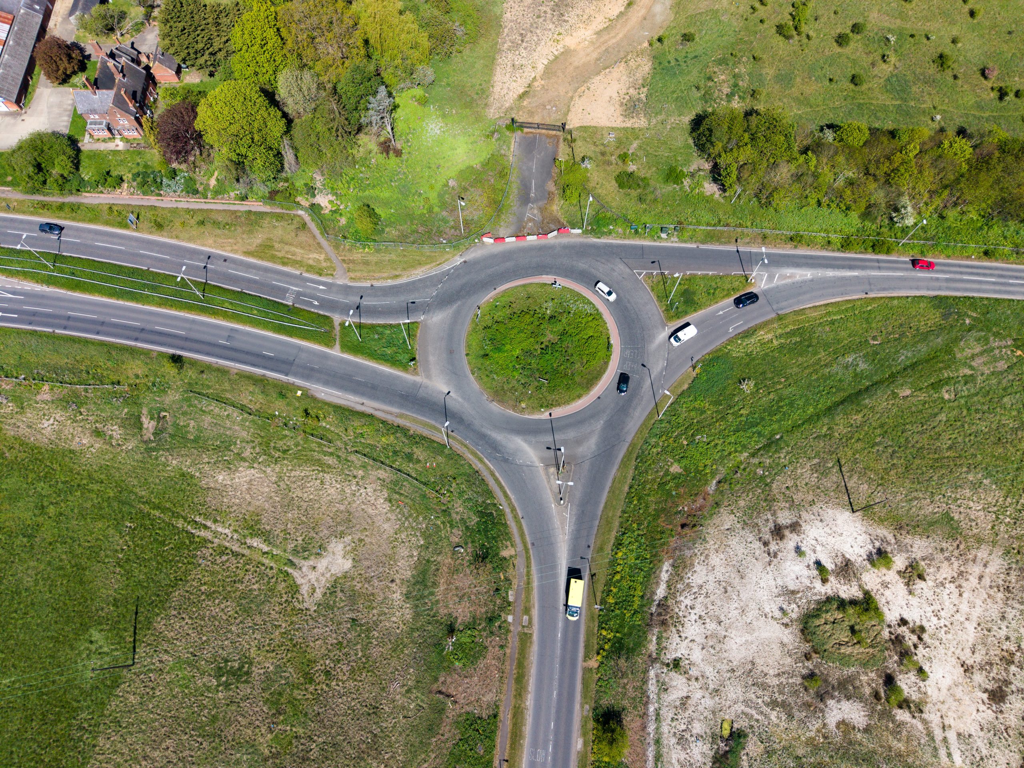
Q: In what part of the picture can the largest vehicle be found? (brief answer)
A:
bottom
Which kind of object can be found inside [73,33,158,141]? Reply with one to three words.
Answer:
house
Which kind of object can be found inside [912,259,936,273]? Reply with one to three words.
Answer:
car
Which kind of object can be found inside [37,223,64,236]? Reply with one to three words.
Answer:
vehicle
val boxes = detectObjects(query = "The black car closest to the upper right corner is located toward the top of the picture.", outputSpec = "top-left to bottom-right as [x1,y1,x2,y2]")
[733,292,760,311]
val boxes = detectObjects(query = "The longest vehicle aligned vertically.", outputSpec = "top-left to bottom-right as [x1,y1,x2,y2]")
[563,578,584,622]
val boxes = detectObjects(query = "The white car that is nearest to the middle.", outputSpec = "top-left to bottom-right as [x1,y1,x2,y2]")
[594,281,617,303]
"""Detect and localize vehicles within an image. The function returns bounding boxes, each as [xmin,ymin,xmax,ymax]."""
[617,372,630,397]
[912,259,936,273]
[563,578,584,622]
[669,324,699,347]
[37,223,64,236]
[733,292,760,311]
[594,281,617,303]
